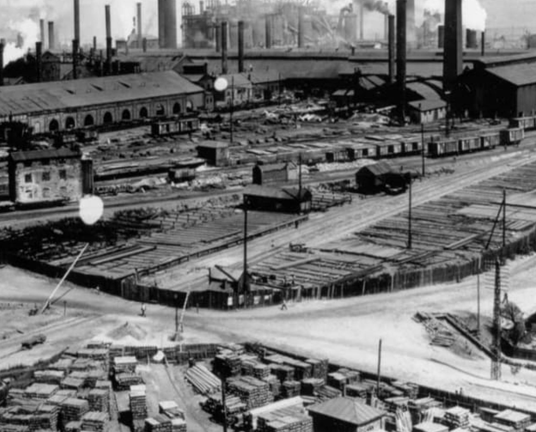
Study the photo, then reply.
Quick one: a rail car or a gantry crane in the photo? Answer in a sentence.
It is a rail car that can be seen here.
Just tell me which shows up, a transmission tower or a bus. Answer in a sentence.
Of the two, only a transmission tower appears.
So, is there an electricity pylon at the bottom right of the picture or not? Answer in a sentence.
Yes, an electricity pylon is visible at the bottom right of the picture.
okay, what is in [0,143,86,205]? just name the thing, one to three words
house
